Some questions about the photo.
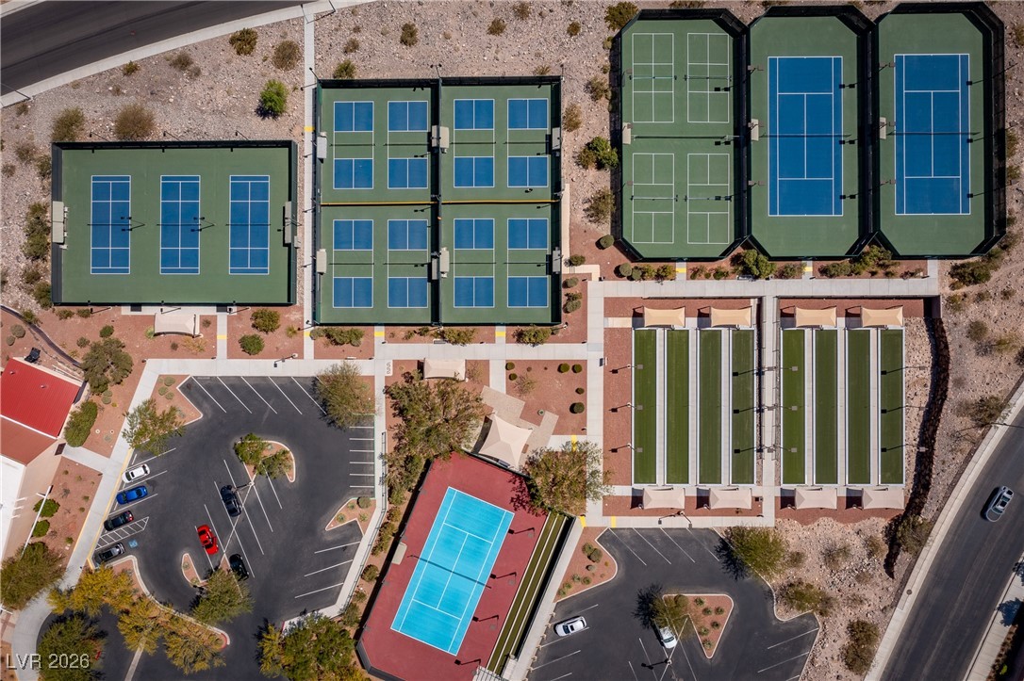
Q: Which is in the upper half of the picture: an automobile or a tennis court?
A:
tennis court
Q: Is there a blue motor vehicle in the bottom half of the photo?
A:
Yes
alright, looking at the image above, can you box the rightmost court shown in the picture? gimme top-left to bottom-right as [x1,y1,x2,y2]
[875,11,992,255]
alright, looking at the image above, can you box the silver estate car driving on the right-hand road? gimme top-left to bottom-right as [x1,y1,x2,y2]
[982,489,1011,522]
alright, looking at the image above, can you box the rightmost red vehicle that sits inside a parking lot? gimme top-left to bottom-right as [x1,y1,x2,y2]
[198,524,222,554]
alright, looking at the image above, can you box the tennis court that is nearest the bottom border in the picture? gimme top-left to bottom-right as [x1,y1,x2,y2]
[357,455,548,681]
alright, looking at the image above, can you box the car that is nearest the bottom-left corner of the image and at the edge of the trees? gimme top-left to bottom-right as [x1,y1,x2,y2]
[94,542,126,563]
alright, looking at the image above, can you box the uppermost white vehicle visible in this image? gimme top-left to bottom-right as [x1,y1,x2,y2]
[121,463,152,483]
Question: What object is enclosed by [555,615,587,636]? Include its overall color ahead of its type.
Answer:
white car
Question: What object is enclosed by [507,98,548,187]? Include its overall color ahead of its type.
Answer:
blue sports court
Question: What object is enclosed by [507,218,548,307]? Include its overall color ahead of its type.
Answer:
blue sports court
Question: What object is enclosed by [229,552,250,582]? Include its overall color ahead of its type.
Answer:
black car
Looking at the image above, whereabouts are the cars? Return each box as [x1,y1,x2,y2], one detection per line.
[982,489,1011,522]
[654,616,675,649]
[229,552,250,582]
[94,542,126,563]
[198,524,222,554]
[117,485,149,504]
[105,510,135,530]
[121,463,152,483]
[220,484,242,517]
[555,615,587,636]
